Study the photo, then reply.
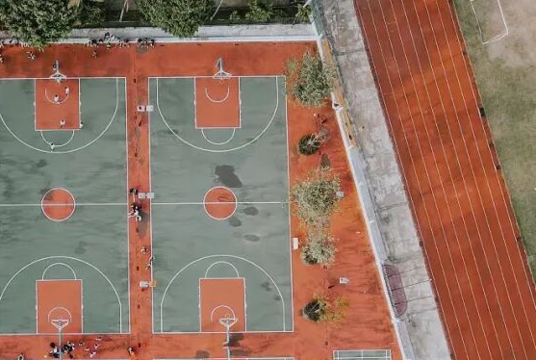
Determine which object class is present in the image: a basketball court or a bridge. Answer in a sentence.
Looking from above, you can make out a basketball court.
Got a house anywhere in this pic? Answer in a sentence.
No, the scene contains no house.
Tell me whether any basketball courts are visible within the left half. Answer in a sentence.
Yes, there is a basketball court within the left half.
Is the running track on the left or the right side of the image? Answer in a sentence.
The running track appears in the right half of the scene.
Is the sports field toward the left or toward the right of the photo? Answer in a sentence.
The sports field appears in the right half of the scene.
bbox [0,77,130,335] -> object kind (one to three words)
basketball court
